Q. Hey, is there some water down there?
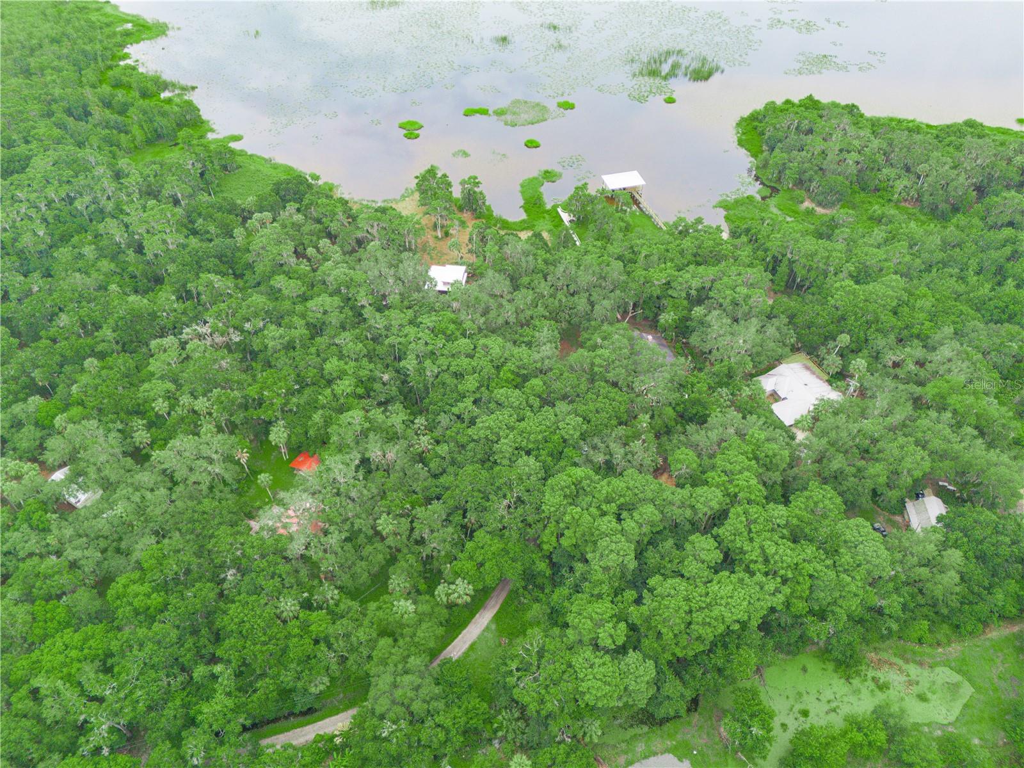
Yes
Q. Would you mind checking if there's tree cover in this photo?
Yes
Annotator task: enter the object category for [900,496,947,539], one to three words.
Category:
shed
